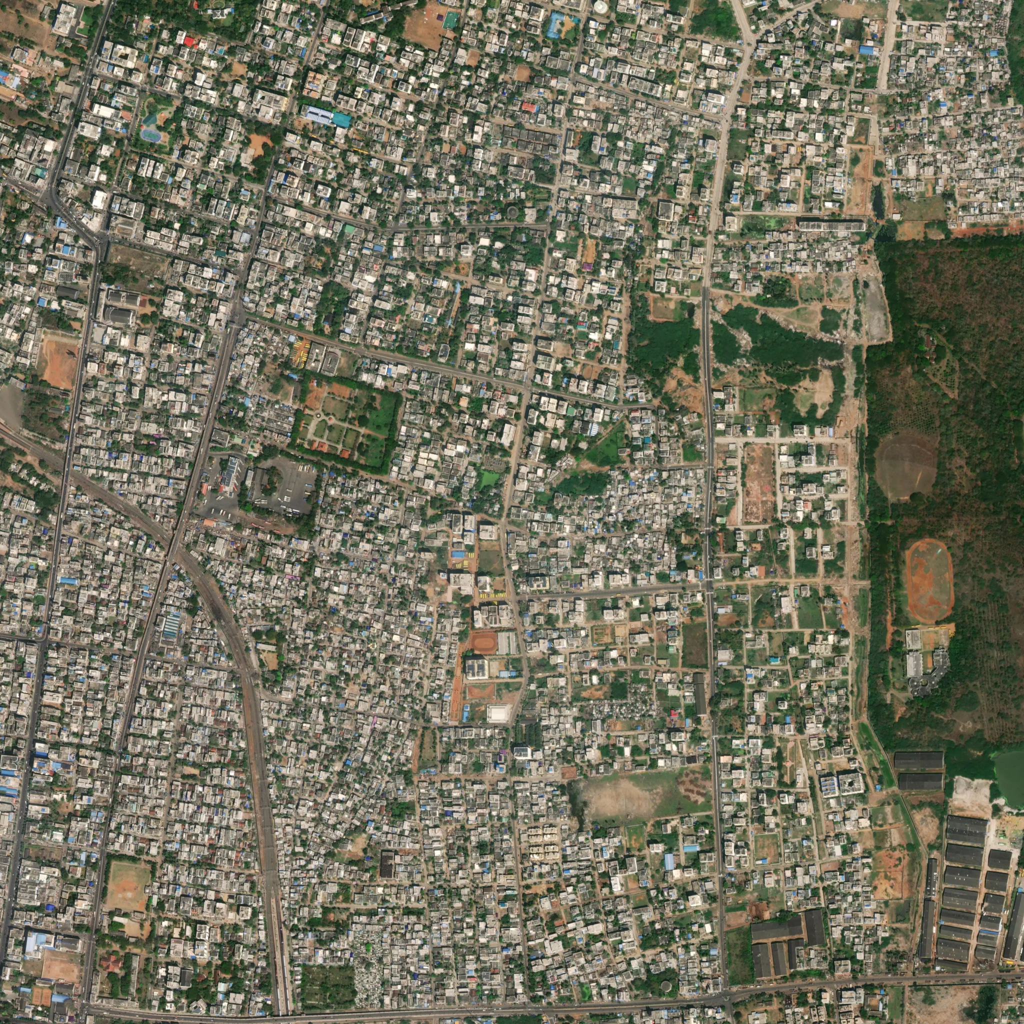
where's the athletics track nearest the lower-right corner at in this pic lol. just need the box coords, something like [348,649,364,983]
[906,539,955,623]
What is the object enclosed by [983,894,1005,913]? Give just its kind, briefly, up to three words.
building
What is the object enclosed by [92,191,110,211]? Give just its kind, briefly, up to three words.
building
